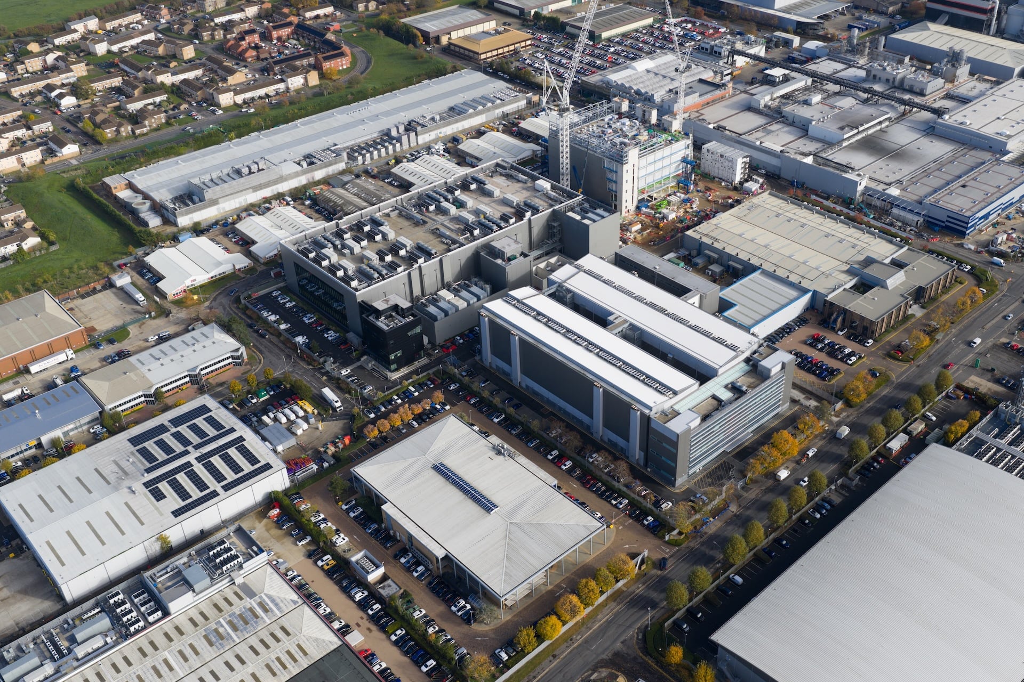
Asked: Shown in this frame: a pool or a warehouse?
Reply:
warehouse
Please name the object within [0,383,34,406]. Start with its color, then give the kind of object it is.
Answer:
white truck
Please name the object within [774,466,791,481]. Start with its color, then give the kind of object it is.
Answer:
white vehicle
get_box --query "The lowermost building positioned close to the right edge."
[707,443,1024,682]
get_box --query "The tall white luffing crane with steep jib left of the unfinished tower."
[539,0,599,191]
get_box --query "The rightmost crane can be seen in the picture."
[664,0,698,136]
